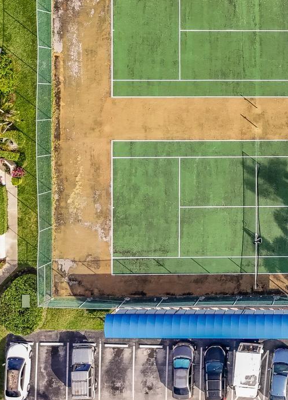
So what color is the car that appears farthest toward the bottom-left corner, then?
white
